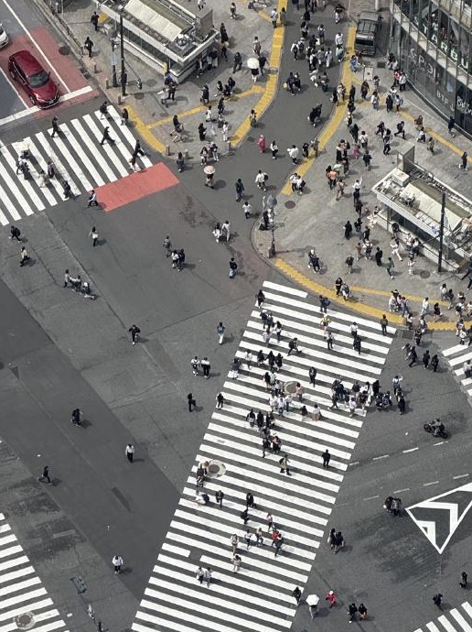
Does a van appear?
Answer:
Yes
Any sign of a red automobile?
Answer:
Yes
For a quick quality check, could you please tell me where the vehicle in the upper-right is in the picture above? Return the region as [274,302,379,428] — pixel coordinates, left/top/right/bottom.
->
[349,2,381,66]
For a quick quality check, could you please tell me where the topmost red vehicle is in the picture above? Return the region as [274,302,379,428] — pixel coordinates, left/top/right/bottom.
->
[7,49,57,107]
